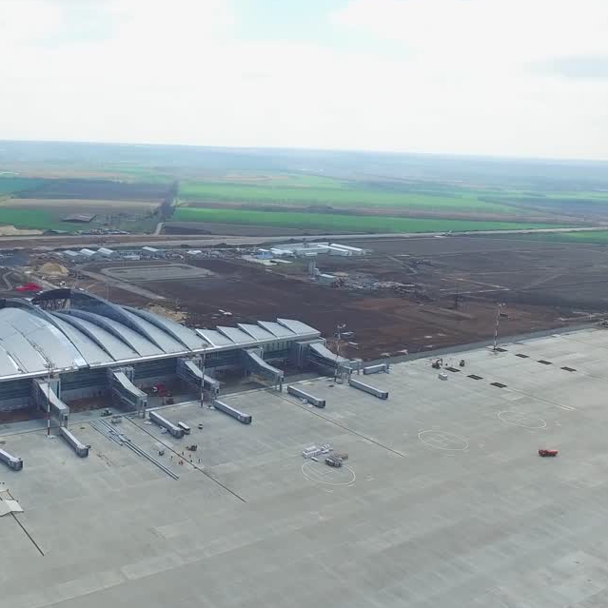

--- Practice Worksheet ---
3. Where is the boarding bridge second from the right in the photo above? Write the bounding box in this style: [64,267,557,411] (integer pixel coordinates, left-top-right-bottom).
[232,345,286,391]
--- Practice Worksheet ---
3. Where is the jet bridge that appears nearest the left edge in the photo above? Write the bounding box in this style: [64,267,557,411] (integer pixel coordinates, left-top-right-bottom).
[27,372,69,427]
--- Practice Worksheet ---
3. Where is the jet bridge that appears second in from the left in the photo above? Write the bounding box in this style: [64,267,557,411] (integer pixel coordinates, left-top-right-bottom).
[99,363,148,416]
